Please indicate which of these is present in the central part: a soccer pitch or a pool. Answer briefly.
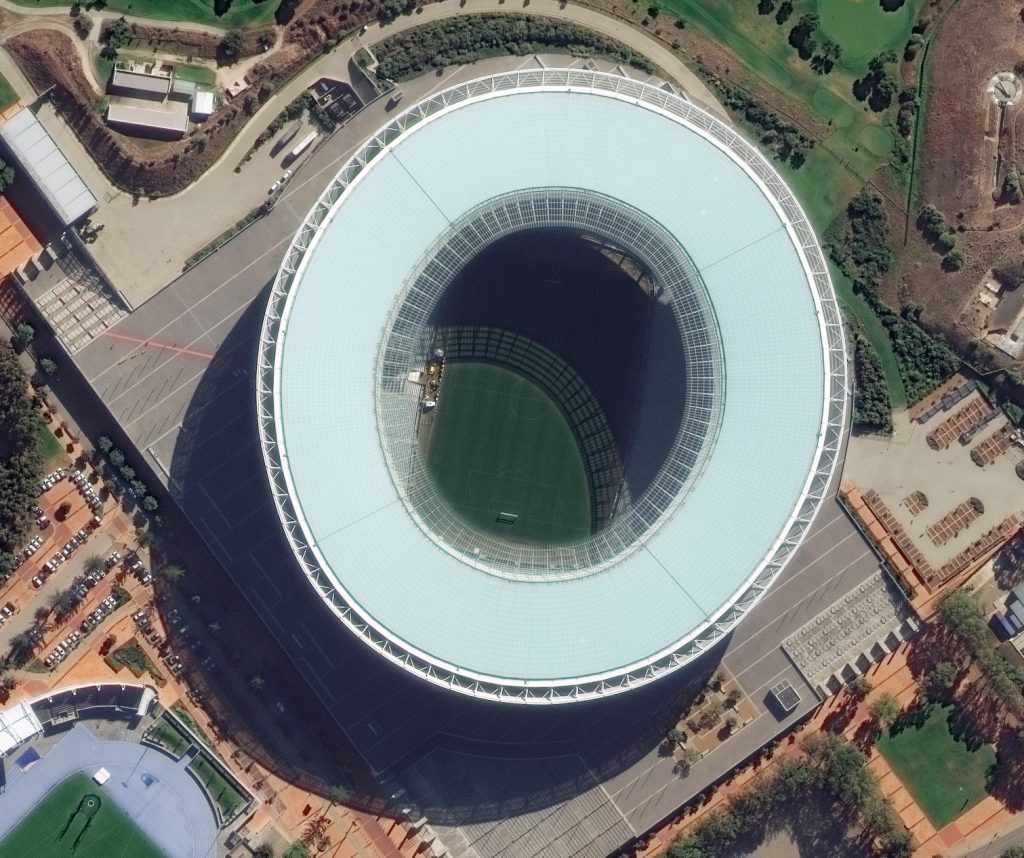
soccer pitch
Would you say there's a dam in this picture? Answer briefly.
No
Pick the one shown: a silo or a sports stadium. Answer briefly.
sports stadium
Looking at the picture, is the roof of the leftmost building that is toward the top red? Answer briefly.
No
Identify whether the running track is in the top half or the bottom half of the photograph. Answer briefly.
bottom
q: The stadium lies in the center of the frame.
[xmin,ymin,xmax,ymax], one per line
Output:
[255,66,852,706]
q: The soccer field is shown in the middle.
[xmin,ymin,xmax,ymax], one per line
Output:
[424,257,634,542]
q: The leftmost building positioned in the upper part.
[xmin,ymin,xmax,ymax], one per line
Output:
[0,106,97,228]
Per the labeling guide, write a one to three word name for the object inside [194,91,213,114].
house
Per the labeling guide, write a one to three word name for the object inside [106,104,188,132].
house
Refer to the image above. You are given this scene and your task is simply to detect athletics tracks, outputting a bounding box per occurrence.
[0,724,218,858]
